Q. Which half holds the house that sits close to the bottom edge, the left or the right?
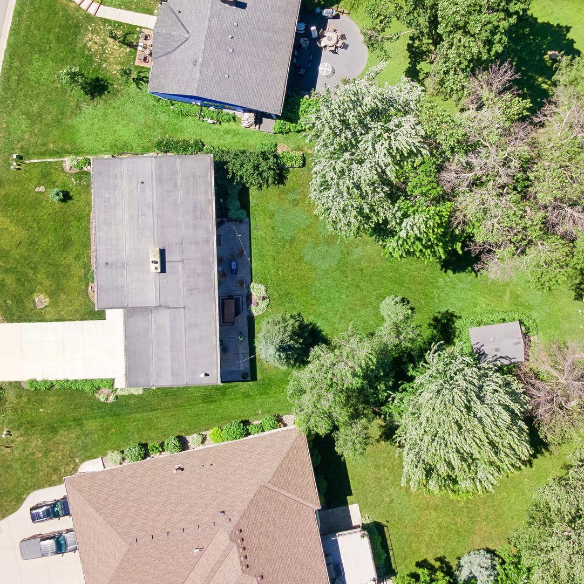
left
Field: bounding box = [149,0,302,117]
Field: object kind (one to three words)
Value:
house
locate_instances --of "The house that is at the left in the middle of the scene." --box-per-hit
[91,154,221,389]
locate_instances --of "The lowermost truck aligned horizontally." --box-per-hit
[21,529,78,561]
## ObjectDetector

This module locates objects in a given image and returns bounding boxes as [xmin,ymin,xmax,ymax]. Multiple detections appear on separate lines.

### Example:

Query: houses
[149,0,302,117]
[91,154,221,389]
[63,425,330,584]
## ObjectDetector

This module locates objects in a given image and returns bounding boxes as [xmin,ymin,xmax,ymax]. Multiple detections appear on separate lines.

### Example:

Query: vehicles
[30,499,71,525]
[21,529,78,561]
